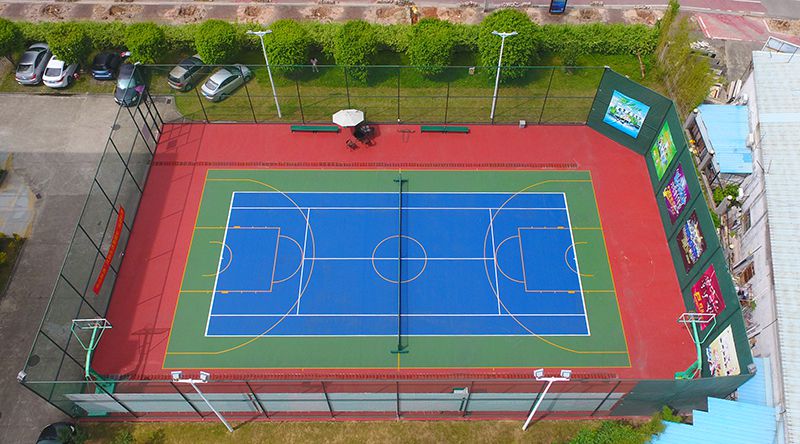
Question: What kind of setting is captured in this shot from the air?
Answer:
sports ground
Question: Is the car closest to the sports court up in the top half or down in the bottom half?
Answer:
bottom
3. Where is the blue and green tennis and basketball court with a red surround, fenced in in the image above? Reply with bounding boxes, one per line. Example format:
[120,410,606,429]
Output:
[72,122,703,422]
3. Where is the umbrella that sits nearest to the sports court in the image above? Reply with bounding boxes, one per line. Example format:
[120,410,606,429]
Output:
[332,106,363,139]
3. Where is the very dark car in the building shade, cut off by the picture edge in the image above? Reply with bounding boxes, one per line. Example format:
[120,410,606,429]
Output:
[33,422,76,444]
